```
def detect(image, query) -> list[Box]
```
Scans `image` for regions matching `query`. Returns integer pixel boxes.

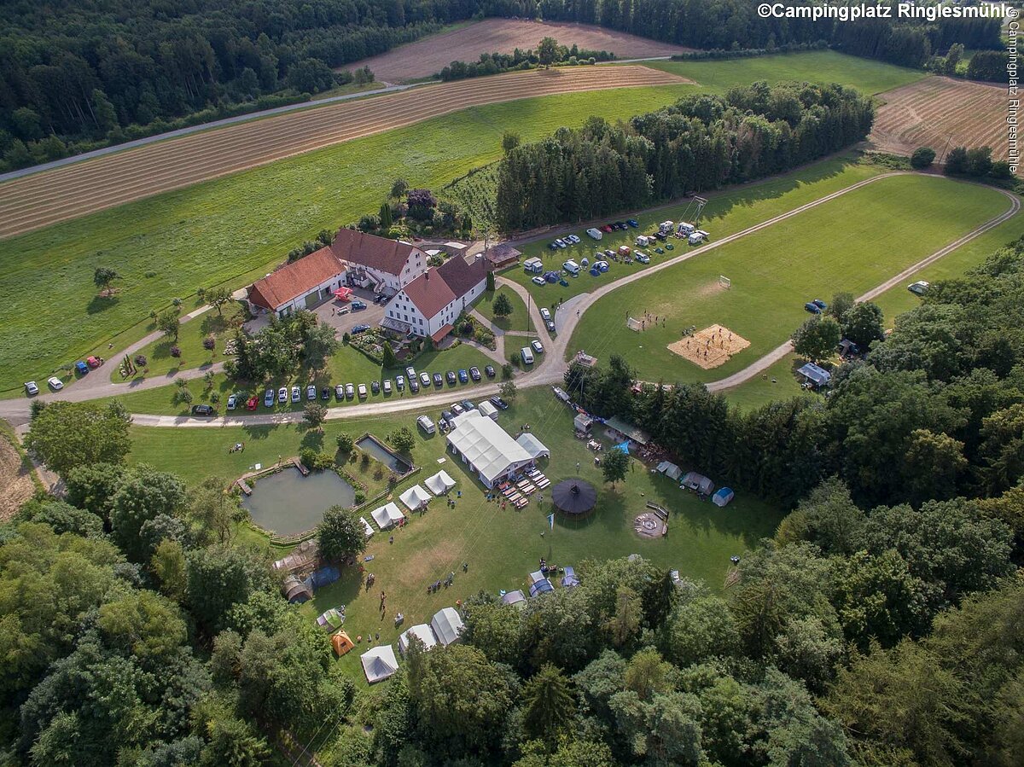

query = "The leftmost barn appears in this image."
[247,245,347,322]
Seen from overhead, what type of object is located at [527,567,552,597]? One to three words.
tent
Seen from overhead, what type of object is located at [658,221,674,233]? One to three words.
vehicle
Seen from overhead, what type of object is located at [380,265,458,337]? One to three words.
house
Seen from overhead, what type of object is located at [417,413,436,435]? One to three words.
vehicle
